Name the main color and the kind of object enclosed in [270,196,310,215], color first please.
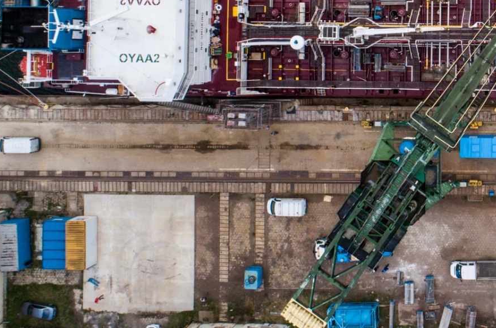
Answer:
white vehicle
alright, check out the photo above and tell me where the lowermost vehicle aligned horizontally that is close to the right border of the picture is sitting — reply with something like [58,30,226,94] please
[452,258,496,278]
